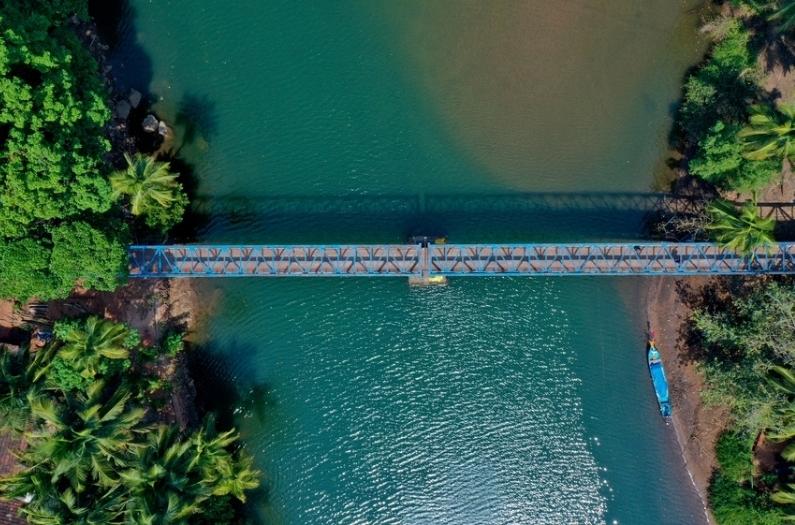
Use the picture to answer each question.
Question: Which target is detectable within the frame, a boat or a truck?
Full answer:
I can see a boat in this picture.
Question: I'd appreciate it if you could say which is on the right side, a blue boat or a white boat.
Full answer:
The one visible on the right side is a blue boat.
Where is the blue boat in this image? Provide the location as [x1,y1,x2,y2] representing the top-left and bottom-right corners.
[642,320,672,422]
